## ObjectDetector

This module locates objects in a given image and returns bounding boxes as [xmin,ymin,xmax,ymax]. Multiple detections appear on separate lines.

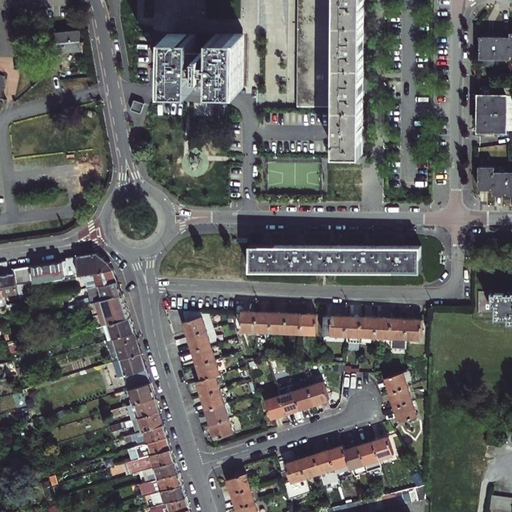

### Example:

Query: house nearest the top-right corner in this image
[480,31,512,60]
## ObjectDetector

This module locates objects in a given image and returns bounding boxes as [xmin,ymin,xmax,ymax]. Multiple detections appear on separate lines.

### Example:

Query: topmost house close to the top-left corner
[55,31,82,54]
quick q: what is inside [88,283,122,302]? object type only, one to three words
house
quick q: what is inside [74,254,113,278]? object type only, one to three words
building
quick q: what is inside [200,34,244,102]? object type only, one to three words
building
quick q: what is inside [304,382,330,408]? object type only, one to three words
house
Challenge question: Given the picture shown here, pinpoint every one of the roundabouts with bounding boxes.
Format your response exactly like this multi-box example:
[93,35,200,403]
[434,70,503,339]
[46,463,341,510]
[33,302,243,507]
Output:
[102,184,174,257]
